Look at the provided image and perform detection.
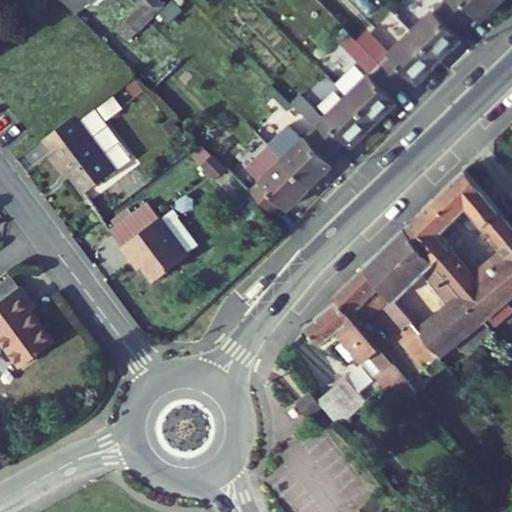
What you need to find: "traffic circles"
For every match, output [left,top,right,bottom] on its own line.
[113,356,257,499]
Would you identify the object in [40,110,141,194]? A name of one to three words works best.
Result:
house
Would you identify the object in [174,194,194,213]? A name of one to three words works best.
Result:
gazebo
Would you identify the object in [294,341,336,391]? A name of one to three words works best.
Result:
shed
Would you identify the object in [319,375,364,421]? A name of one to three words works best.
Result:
building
